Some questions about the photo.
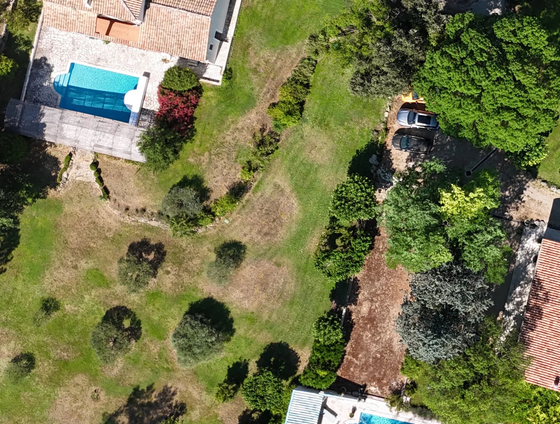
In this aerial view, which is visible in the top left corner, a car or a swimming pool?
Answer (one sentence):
What appears in the top left corner is a swimming pool.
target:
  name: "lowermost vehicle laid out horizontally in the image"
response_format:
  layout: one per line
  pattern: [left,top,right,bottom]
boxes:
[391,133,435,155]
